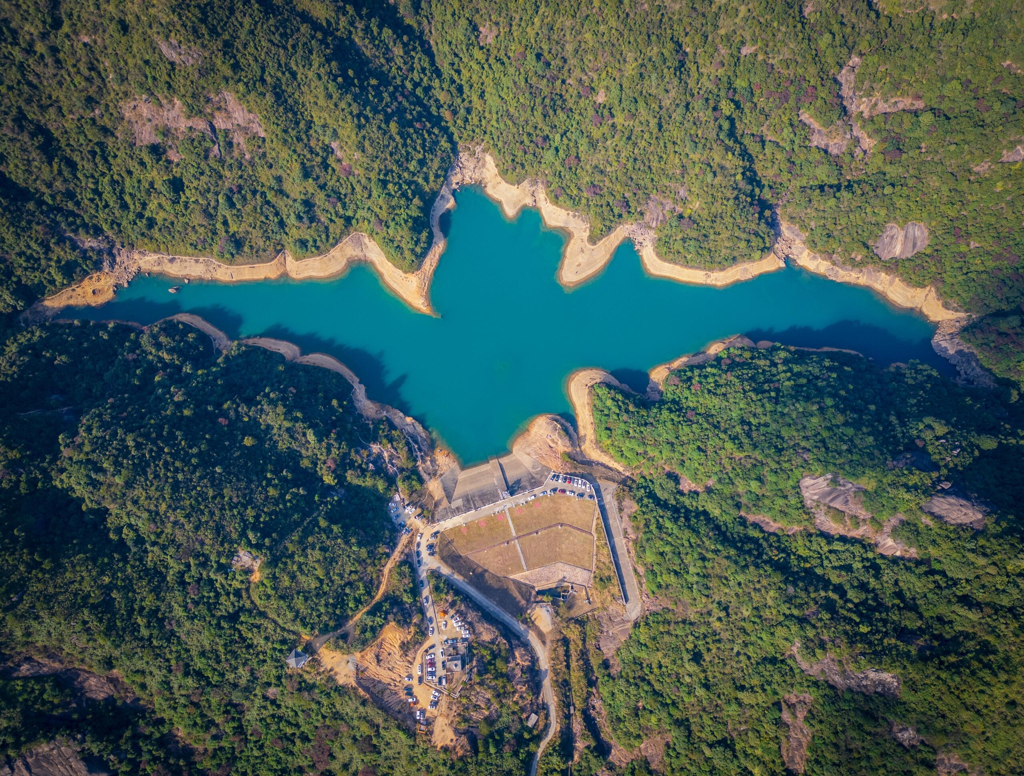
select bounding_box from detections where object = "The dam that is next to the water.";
[423,450,598,587]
